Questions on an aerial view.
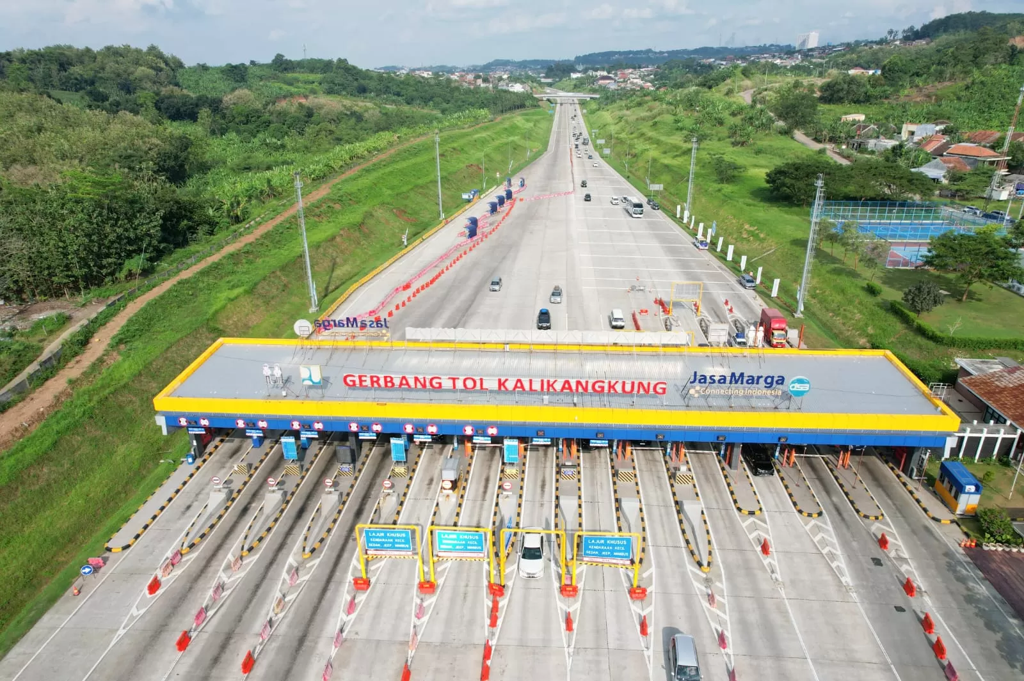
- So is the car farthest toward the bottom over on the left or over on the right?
right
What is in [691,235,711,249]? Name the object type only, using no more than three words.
vehicle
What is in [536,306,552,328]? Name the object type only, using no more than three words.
car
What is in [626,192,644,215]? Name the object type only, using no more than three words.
vehicle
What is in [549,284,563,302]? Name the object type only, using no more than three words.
car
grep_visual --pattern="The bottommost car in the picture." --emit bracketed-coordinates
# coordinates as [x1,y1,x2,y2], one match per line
[664,622,707,681]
